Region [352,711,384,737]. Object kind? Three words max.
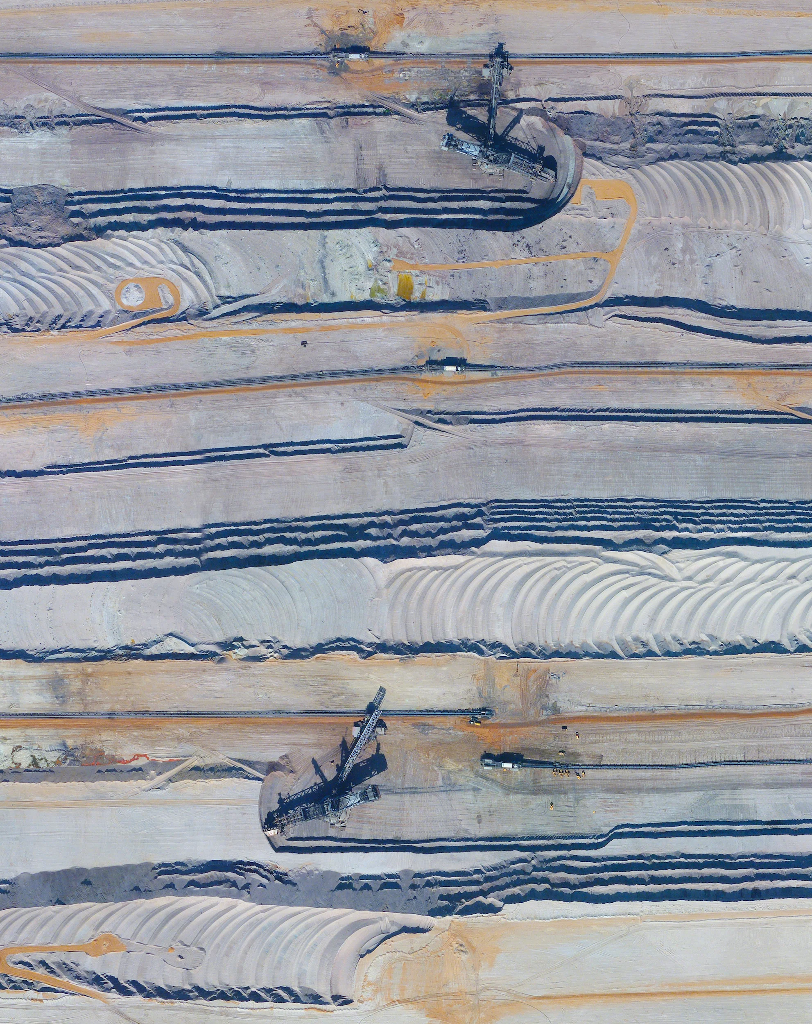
vehicle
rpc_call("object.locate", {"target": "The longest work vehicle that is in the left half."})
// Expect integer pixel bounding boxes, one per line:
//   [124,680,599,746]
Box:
[263,711,383,841]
